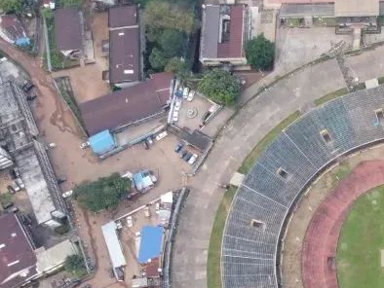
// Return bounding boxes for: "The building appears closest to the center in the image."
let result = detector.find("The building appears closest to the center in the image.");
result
[166,125,213,149]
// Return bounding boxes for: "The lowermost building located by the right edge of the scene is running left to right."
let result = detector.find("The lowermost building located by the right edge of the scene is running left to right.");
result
[335,17,379,31]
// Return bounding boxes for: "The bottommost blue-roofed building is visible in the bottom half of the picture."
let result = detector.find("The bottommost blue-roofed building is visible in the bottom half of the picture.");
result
[138,225,165,262]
